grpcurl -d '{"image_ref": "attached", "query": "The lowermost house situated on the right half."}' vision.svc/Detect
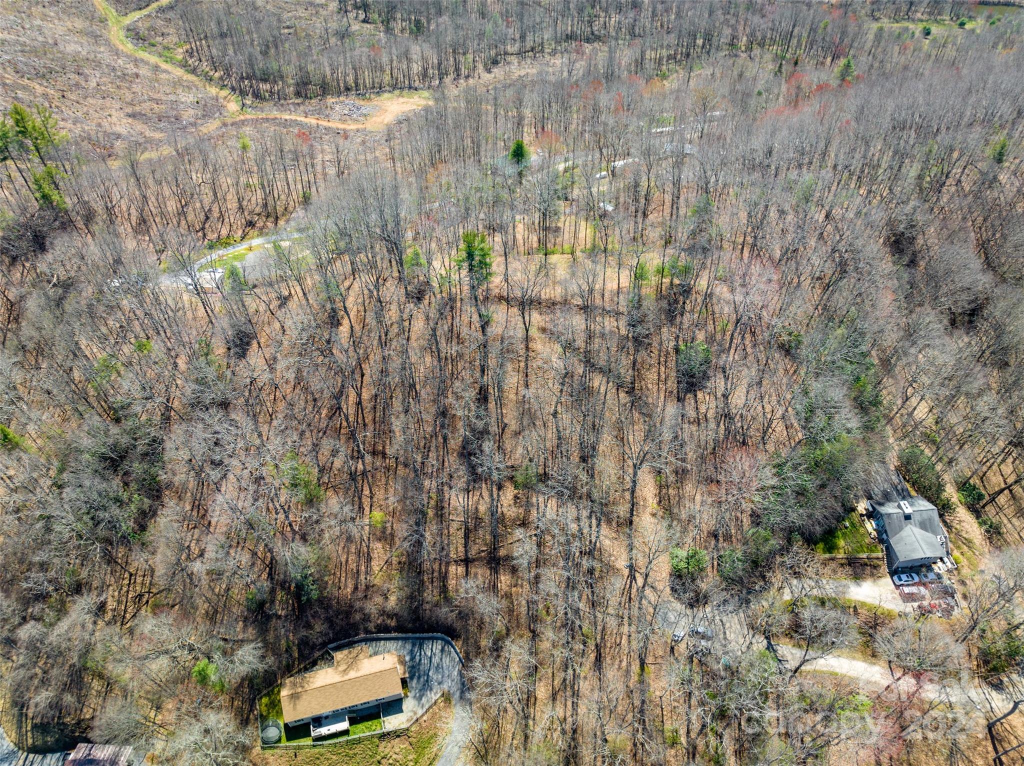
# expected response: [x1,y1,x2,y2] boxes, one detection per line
[855,499,957,579]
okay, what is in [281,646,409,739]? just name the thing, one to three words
house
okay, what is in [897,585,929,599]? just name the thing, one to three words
car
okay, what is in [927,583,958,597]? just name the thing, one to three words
car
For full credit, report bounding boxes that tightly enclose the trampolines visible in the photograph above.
[257,721,284,747]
